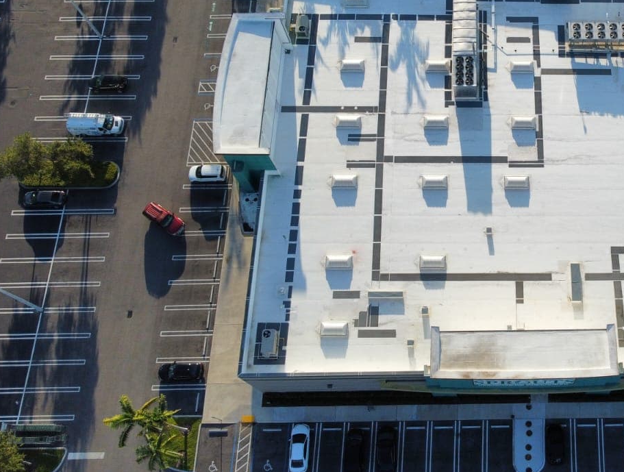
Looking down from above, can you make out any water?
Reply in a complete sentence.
No, no water is visible.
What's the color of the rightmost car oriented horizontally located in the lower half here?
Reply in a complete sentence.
The color of the rightmost car oriented horizontally located in the lower half is black.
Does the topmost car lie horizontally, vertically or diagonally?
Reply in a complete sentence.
The topmost car has been laid out horizontally relative to the frame.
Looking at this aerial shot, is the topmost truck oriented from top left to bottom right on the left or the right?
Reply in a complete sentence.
The topmost truck oriented from top left to bottom right appears in the left half of the scene.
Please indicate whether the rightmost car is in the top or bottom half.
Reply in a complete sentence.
The bottom half of the photo is where the rightmost car is.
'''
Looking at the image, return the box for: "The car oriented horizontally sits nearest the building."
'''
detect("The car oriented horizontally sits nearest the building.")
[186,162,228,182]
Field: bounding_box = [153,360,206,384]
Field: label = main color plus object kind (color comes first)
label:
black car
